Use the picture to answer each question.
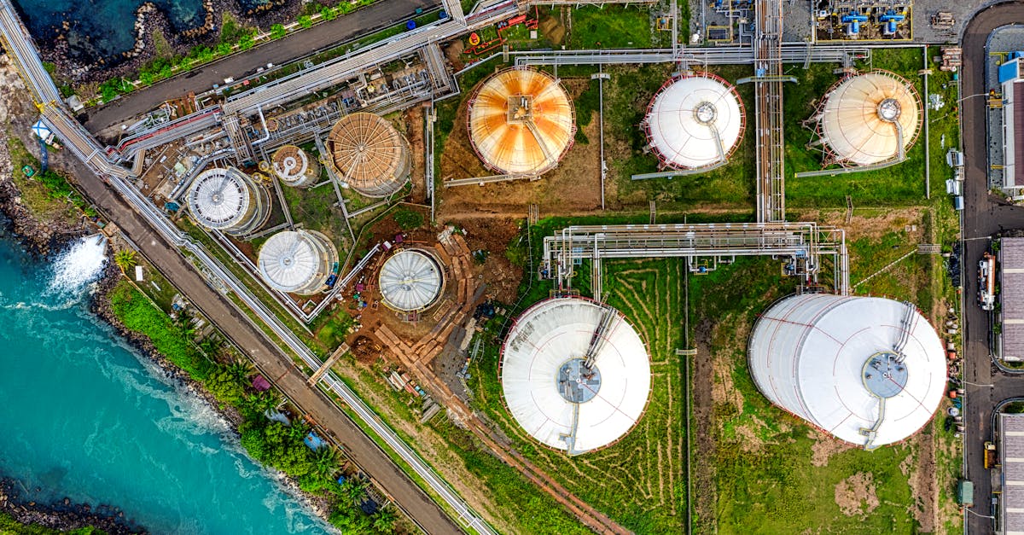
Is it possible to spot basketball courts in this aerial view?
No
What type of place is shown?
industrial area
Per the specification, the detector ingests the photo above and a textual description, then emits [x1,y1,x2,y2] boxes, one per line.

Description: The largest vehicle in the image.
[976,253,995,310]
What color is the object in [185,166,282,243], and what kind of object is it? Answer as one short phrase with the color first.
white storage tank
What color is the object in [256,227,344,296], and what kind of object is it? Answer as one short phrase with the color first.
white storage tank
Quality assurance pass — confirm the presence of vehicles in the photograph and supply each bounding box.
[981,441,997,467]
[976,253,995,310]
